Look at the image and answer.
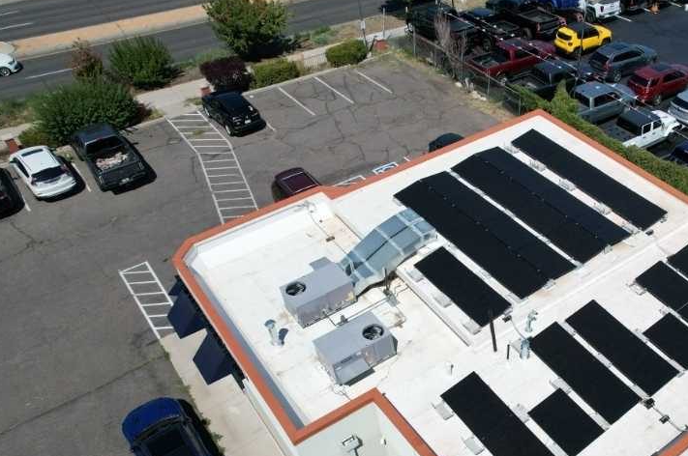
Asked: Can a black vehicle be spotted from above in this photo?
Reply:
Yes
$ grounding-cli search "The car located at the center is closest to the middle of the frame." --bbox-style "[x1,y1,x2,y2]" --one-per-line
[272,172,316,203]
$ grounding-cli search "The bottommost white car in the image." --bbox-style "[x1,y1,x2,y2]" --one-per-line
[8,148,76,203]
